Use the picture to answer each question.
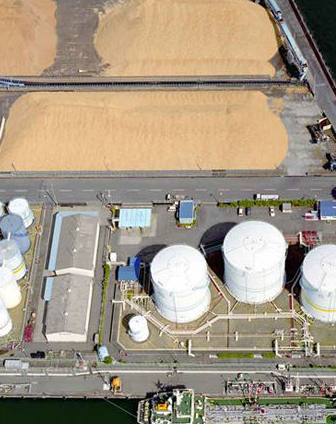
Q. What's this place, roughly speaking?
industrial area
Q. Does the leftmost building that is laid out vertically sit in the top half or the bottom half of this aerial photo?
bottom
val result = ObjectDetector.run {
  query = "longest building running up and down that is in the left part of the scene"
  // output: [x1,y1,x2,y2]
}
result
[44,210,99,342]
